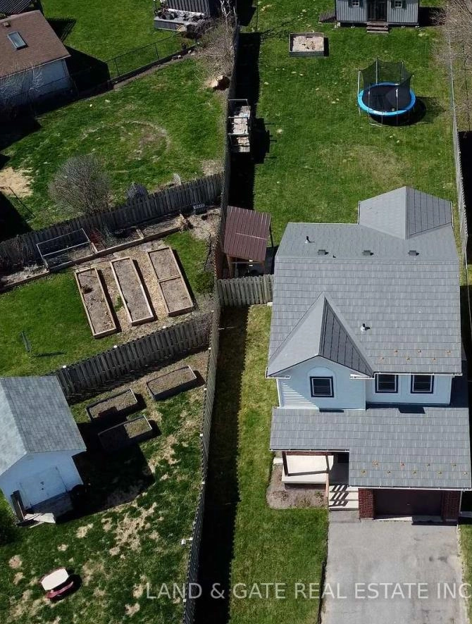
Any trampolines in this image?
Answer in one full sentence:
Yes, the picture does show a trampoline.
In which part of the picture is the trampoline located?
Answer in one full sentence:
The trampoline appears toward the top right of the photo.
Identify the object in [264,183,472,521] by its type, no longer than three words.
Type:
house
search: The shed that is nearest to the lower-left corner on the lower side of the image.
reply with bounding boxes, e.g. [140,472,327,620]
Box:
[0,375,88,526]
